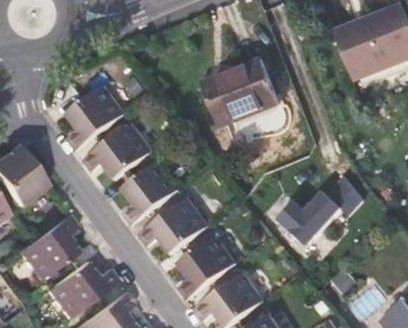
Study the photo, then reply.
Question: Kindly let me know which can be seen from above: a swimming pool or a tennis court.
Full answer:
The image shows a swimming pool.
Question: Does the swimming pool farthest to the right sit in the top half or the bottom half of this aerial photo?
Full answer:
The swimming pool farthest to the right is in the bottom half of the image.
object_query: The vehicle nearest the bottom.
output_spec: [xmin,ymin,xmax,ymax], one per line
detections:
[184,308,201,328]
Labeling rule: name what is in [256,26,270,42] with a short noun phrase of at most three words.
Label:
vehicle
